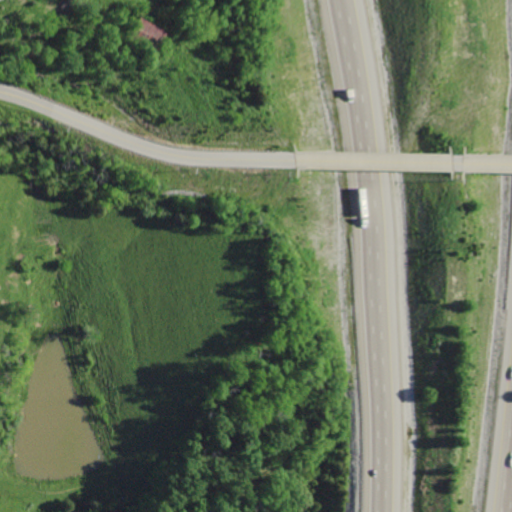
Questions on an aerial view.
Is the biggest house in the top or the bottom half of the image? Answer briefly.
top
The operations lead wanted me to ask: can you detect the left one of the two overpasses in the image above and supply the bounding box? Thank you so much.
[296,144,452,178]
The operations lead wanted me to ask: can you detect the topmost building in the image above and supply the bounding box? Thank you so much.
[135,16,168,44]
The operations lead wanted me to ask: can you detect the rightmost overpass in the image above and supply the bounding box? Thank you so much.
[463,146,512,182]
